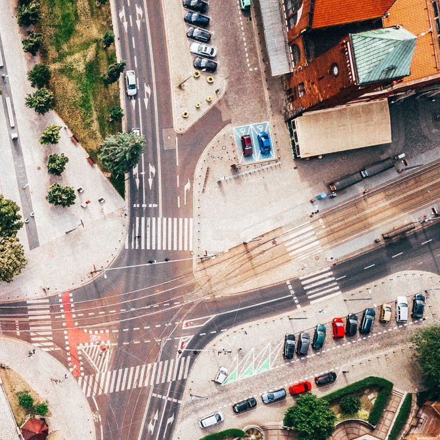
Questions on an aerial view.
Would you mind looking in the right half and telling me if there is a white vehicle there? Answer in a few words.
Yes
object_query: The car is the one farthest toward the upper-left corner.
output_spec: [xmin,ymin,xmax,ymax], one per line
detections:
[126,68,139,95]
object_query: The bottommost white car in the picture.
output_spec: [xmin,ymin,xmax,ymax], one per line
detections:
[200,412,225,429]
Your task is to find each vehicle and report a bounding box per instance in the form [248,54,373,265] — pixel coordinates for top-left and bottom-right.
[346,313,362,336]
[191,42,217,56]
[412,293,429,319]
[361,308,378,334]
[200,412,225,429]
[382,302,394,323]
[194,56,218,71]
[243,0,254,12]
[185,10,212,25]
[215,366,229,385]
[290,380,314,395]
[262,389,289,404]
[189,26,212,41]
[316,372,339,386]
[298,333,313,355]
[397,296,414,322]
[258,130,272,153]
[131,127,143,146]
[235,398,258,414]
[126,68,139,95]
[185,0,208,11]
[333,316,347,339]
[243,133,255,154]
[313,323,330,350]
[285,333,299,358]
